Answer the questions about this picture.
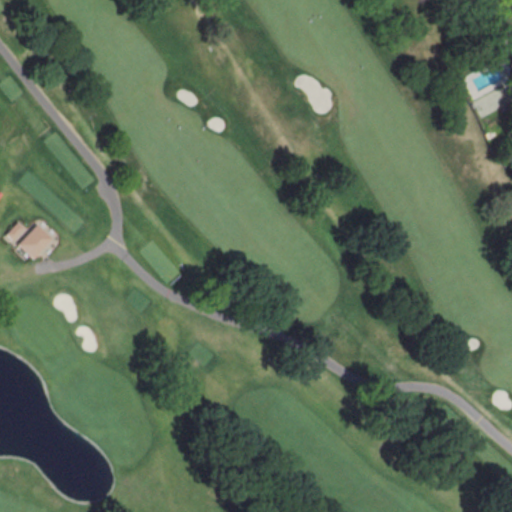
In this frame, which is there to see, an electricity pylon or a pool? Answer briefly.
pool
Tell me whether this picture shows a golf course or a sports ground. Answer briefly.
golf course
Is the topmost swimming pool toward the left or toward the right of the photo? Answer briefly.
right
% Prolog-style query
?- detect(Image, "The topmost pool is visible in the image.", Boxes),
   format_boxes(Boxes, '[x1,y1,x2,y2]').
[465,64,502,100]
